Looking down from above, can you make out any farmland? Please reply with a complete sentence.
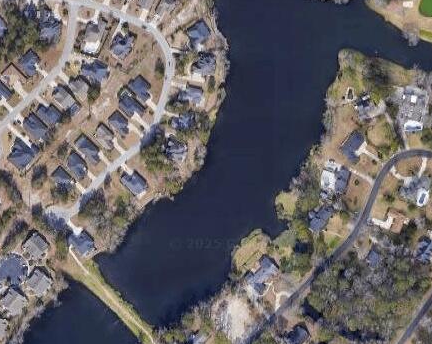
No, farmland can't be seen anywhere here.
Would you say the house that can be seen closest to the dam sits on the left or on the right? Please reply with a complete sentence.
It is on the left.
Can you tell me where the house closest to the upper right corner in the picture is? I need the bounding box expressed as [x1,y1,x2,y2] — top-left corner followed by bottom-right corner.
[403,88,427,114]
